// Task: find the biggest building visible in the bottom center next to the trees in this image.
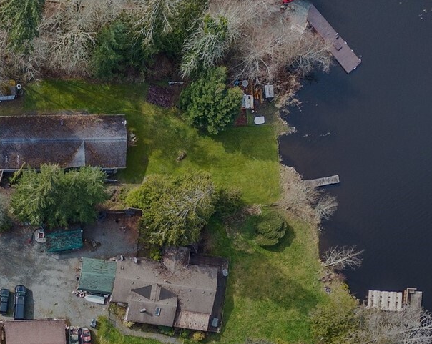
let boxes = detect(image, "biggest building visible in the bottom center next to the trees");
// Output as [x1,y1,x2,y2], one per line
[109,247,232,333]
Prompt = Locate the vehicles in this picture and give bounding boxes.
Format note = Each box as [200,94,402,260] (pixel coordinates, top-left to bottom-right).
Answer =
[88,317,98,328]
[69,324,80,344]
[0,287,11,316]
[81,327,92,344]
[16,286,28,319]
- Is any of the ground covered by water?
Yes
